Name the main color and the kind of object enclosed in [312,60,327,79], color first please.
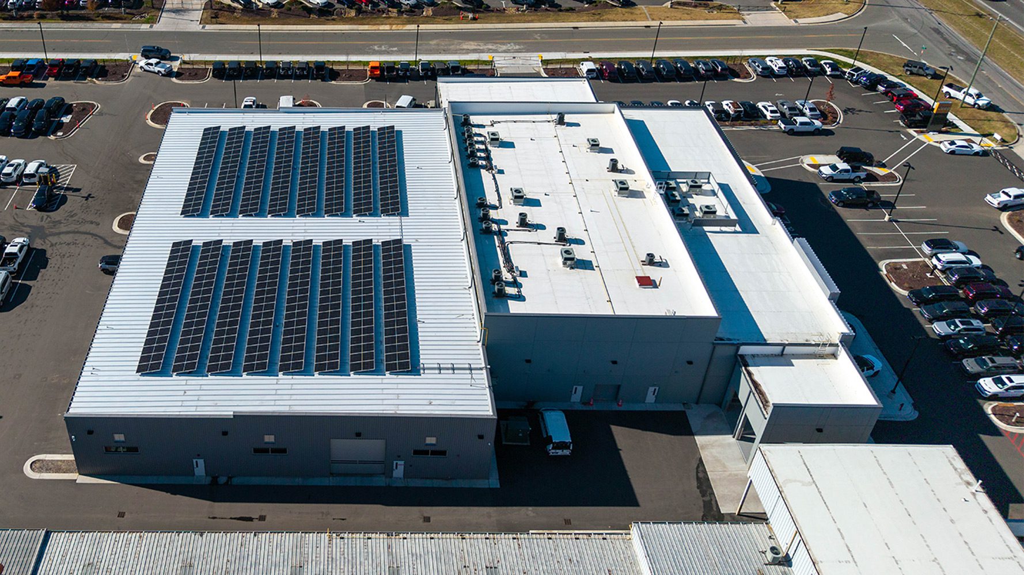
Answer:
black vehicle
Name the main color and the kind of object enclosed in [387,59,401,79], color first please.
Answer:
black vehicle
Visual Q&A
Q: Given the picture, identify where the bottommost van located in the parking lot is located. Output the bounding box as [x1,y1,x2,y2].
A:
[536,406,573,459]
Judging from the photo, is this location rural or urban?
urban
